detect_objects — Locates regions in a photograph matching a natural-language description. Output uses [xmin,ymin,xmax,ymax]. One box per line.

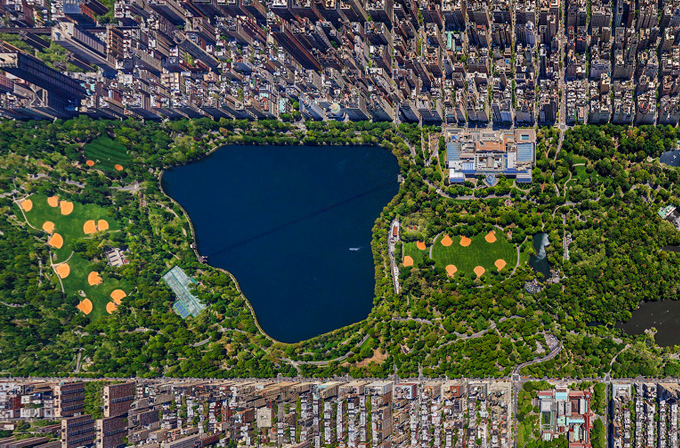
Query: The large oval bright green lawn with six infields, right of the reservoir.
[433,228,519,285]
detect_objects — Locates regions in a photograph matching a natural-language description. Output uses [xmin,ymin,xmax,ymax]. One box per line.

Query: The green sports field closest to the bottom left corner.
[18,194,127,319]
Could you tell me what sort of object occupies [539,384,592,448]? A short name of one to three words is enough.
building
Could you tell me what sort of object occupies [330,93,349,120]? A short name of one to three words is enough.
building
